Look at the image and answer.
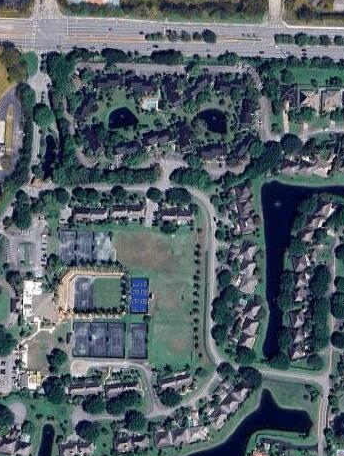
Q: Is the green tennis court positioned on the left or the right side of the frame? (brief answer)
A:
left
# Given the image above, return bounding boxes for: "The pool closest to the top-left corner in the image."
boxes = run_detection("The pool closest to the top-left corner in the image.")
[144,97,158,111]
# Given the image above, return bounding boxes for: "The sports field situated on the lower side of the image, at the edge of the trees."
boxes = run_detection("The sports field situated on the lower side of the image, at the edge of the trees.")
[119,228,193,347]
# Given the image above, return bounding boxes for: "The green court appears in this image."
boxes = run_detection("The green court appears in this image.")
[94,277,122,311]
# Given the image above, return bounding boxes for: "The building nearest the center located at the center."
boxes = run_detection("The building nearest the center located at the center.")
[161,208,195,223]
